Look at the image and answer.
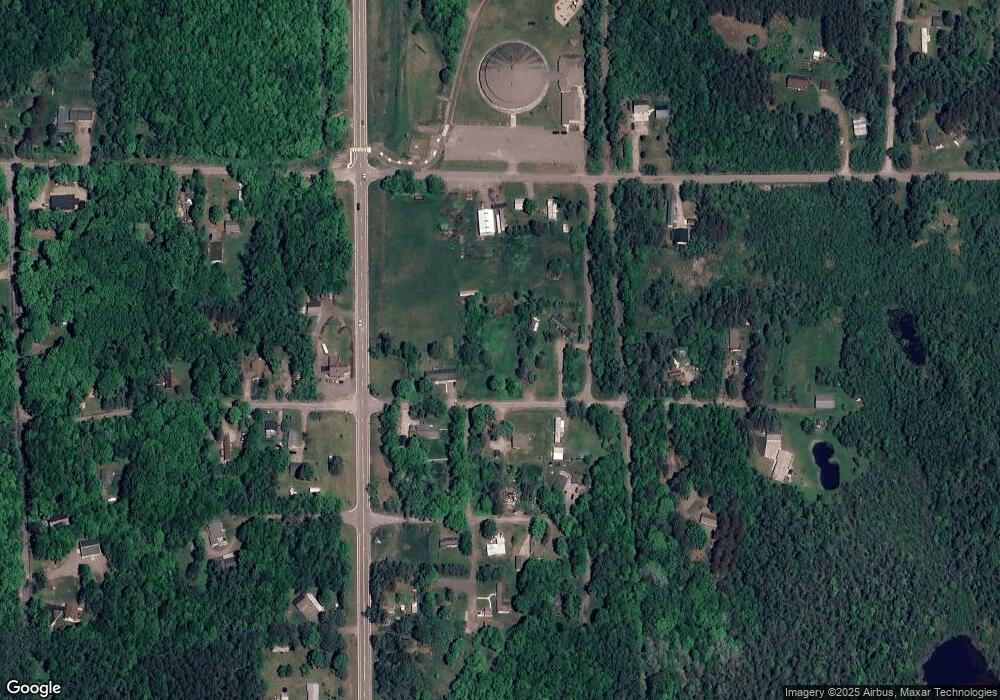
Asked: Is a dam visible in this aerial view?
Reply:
No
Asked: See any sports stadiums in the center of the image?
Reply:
No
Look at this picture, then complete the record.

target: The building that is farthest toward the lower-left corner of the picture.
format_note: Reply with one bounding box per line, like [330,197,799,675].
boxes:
[62,602,83,622]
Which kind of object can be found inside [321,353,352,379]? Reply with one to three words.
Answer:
building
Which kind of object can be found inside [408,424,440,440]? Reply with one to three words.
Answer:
house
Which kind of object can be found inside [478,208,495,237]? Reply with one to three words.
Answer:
barn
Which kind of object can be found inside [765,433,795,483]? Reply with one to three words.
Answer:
house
